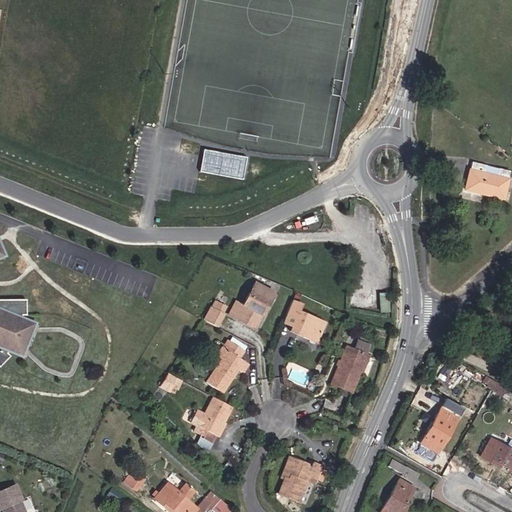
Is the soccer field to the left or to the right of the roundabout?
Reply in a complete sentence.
From the viewer's perspective, the soccer field falls to the left of the roundabout.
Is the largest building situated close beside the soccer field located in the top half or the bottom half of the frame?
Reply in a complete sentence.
The largest building situated close beside the soccer field sits in the top half of the picture.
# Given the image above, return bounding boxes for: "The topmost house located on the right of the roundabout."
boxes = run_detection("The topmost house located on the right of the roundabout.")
[464,162,512,202]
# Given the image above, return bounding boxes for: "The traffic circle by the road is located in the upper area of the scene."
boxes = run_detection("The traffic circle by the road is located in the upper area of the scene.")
[354,130,418,198]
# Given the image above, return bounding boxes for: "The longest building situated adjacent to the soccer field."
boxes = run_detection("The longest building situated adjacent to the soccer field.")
[200,149,248,180]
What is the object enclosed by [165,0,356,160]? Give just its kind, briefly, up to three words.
soccer field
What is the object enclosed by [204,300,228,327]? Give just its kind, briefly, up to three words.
building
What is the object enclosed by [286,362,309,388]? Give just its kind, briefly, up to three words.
swimming pool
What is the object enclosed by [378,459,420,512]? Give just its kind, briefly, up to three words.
house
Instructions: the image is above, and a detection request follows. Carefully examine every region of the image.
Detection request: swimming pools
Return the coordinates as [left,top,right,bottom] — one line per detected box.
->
[286,362,309,388]
[483,412,495,424]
